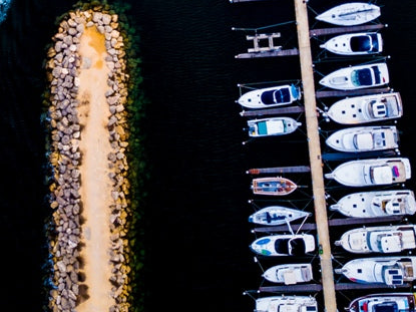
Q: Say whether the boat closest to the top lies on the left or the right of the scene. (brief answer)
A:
right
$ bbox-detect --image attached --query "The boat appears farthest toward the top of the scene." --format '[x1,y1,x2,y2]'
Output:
[316,4,381,26]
